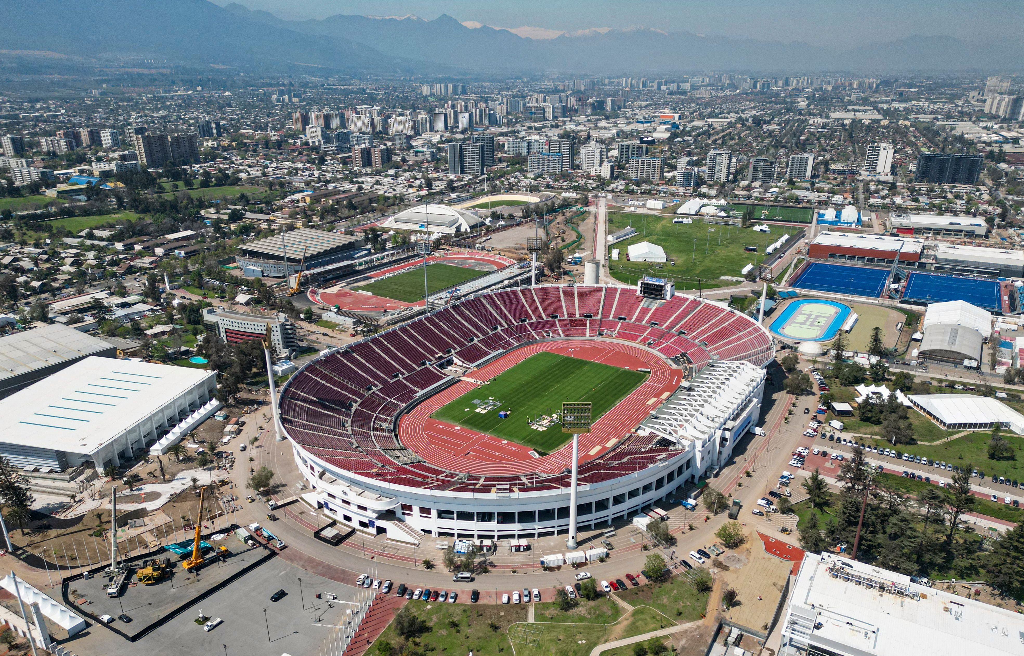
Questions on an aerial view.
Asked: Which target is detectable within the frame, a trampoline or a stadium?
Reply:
stadium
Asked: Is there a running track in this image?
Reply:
Yes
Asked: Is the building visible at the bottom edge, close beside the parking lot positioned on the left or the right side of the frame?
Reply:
right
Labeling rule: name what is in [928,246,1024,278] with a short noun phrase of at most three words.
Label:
building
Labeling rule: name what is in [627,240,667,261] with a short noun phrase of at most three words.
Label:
tent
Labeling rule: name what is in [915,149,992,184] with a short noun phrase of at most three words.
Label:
building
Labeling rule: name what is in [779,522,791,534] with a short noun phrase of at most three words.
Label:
vehicle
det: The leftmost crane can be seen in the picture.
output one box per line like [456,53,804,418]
[102,482,140,592]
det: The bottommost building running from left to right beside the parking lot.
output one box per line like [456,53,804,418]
[777,551,1024,656]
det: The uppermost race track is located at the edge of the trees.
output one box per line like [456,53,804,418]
[433,188,571,213]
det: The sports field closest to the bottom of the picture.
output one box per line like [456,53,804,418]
[431,351,649,452]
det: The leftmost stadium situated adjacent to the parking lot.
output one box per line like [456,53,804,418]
[279,285,776,550]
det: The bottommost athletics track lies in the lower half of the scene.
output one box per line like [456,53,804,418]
[398,340,683,477]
